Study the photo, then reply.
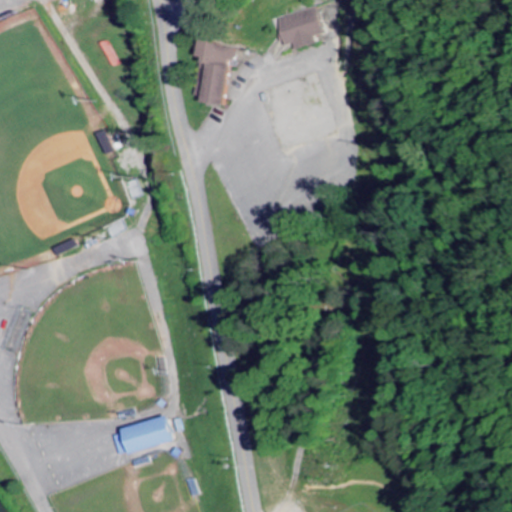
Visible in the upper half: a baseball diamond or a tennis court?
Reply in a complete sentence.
There is a baseball diamond in the upper half.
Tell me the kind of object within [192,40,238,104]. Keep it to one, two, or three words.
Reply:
building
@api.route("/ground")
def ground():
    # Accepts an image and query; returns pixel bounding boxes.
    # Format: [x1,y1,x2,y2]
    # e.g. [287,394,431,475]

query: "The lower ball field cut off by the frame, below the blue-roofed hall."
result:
[48,458,200,512]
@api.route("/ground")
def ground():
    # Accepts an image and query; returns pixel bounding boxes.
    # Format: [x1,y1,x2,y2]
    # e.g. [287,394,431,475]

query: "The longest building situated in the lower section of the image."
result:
[114,416,176,454]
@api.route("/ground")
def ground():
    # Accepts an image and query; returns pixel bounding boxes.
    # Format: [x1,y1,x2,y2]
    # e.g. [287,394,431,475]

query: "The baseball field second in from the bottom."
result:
[16,260,165,423]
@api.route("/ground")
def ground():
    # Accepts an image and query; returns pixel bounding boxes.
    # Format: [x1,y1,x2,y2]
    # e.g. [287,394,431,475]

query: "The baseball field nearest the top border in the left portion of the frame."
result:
[0,8,127,275]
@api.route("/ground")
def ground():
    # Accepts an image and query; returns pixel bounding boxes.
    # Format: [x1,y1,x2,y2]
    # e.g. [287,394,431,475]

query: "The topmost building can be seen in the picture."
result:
[278,8,324,48]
